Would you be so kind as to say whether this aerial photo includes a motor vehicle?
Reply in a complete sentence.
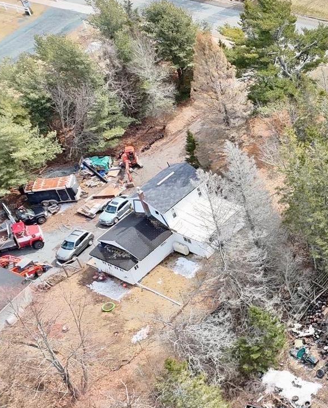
Yes, the picture does show a motor vehicle.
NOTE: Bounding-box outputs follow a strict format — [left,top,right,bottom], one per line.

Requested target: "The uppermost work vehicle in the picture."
[118,139,140,182]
